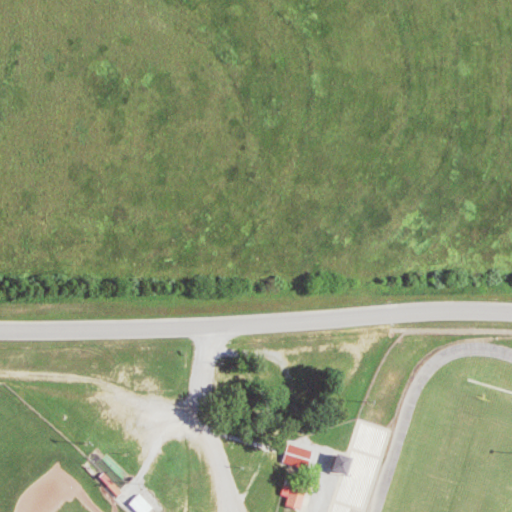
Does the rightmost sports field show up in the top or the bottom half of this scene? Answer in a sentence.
It is in the bottom half that the rightmost sports field appears.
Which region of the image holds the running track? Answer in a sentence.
The running track is in the bottom right part of the image.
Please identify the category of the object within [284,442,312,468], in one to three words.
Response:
building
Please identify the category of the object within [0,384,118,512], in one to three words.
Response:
baseball field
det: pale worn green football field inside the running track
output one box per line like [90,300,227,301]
[382,356,512,512]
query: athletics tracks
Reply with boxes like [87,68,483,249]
[368,342,512,512]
